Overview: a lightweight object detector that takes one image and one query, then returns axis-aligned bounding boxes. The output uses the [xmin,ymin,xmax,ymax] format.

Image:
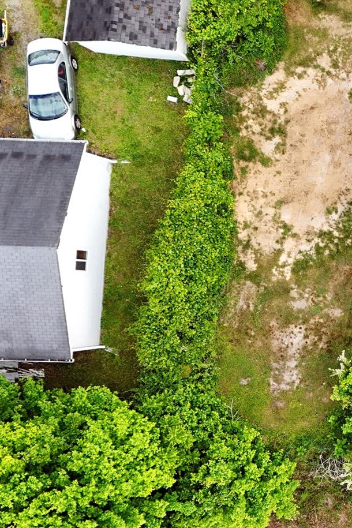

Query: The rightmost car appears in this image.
[23,40,83,137]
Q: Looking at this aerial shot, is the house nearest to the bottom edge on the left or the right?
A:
left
